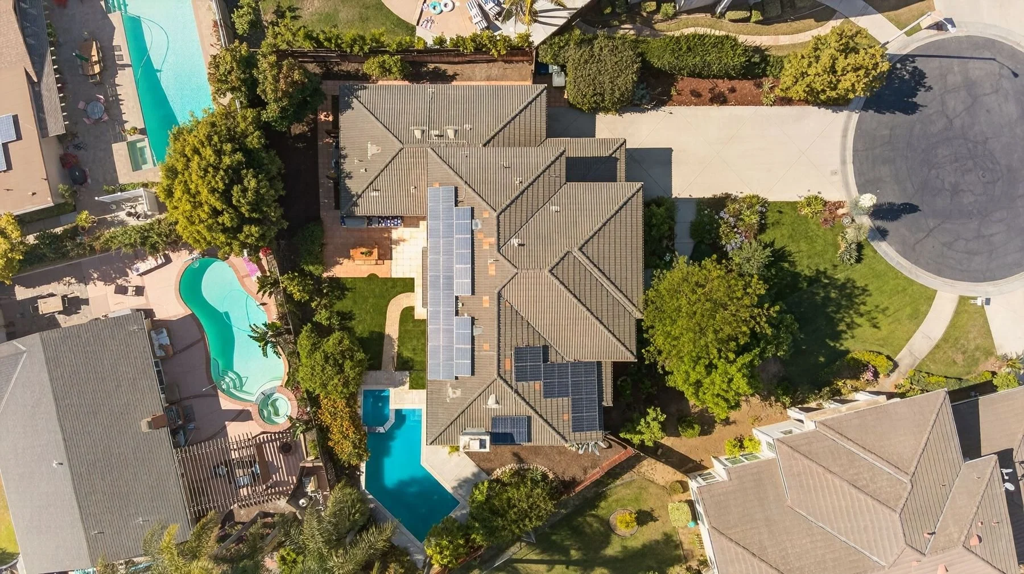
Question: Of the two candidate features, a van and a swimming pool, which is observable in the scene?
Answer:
swimming pool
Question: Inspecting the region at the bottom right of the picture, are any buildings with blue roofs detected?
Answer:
No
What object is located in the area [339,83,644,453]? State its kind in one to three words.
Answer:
house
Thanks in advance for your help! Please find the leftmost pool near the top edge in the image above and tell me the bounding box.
[106,0,222,166]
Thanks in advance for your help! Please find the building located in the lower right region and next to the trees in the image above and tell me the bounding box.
[689,379,1024,574]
